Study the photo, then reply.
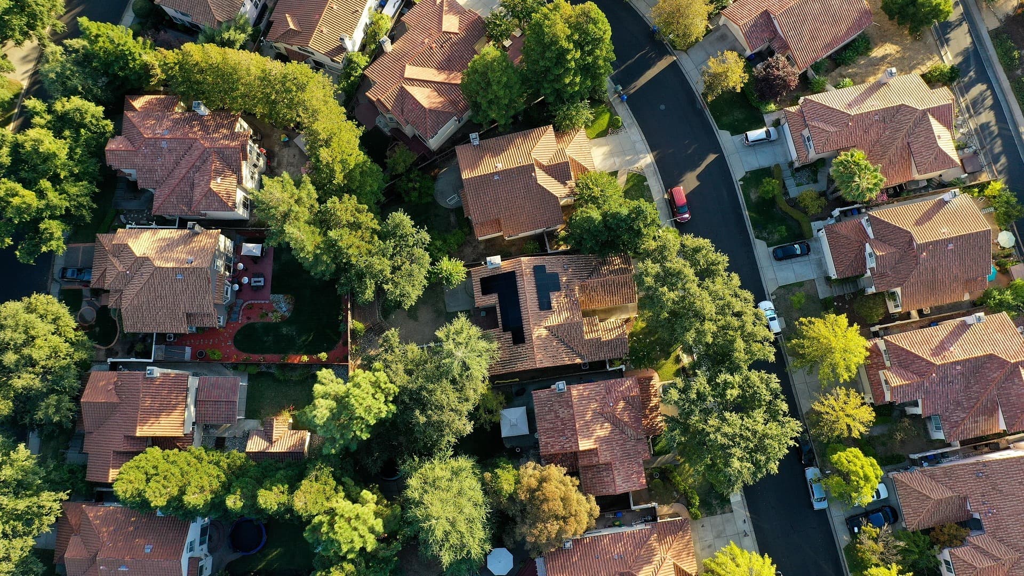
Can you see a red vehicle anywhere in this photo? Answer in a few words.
Yes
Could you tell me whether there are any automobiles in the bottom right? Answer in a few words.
Yes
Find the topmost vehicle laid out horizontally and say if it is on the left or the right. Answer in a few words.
right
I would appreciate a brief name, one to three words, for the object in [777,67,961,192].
house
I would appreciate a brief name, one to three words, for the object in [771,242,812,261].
car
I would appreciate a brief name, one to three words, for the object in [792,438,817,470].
car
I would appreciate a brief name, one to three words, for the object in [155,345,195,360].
shed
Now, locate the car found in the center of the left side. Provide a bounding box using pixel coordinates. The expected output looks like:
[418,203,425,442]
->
[57,266,91,283]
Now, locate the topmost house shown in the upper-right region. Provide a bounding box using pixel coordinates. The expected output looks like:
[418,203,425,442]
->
[721,0,879,78]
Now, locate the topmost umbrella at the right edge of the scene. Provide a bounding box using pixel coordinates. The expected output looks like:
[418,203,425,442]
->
[993,230,1015,248]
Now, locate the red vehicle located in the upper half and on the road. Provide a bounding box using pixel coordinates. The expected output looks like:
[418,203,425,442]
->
[668,185,691,224]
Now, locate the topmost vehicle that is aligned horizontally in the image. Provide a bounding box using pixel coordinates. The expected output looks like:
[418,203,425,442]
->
[742,126,780,146]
